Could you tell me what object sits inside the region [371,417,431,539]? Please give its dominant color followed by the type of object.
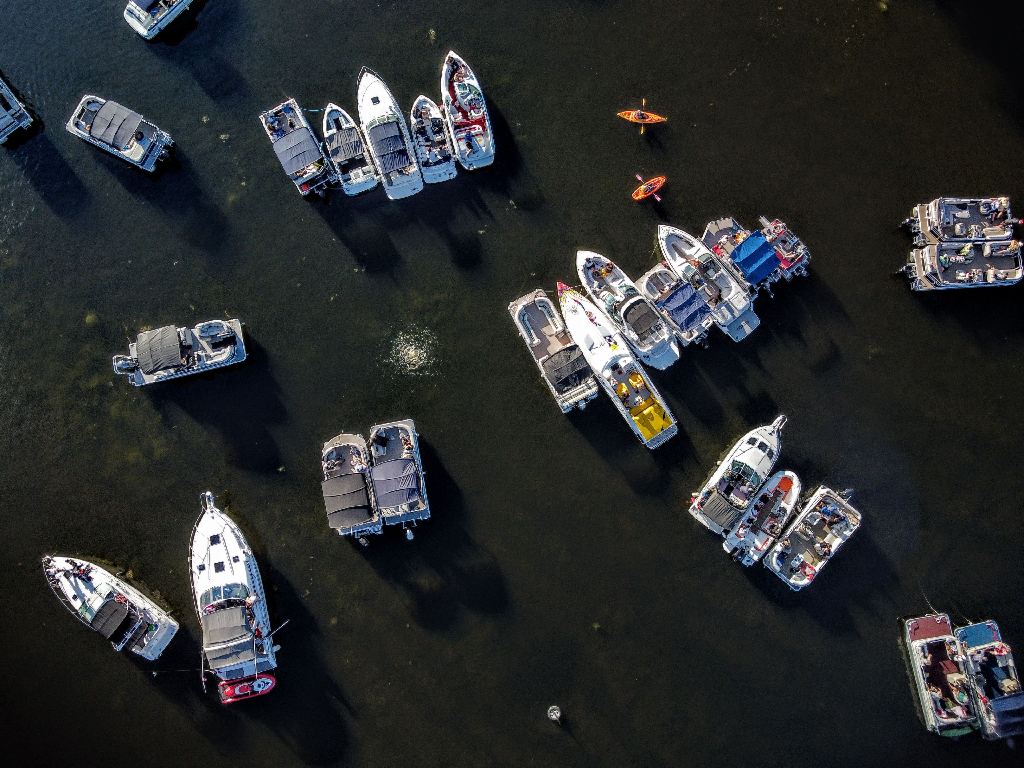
gray boat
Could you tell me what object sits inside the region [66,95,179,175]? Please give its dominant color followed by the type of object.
gray boat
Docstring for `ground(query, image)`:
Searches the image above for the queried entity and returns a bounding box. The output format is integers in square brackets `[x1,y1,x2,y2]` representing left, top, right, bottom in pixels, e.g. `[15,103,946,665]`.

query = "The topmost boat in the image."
[123,0,200,41]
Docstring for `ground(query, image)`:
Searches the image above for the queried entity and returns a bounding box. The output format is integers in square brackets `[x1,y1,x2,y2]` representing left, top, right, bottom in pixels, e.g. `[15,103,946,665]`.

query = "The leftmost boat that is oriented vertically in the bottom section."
[188,491,290,693]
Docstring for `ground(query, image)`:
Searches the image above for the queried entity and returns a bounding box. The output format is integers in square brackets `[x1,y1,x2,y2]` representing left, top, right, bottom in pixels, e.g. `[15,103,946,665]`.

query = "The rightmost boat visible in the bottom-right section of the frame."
[952,613,1024,751]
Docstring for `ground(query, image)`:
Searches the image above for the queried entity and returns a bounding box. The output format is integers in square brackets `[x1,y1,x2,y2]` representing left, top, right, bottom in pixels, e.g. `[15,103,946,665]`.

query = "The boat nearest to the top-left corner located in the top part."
[0,70,38,157]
